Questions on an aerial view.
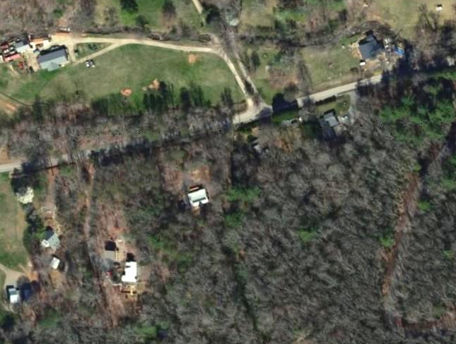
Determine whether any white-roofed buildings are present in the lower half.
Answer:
Yes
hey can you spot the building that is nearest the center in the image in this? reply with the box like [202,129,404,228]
[185,186,209,208]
